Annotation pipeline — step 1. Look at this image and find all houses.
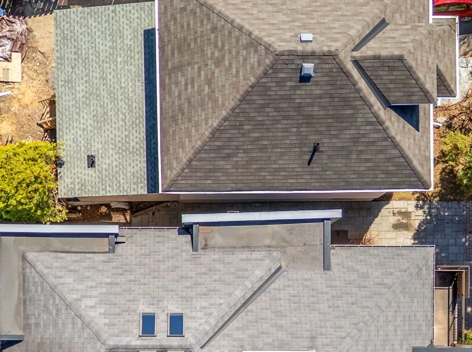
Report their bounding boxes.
[0,209,472,352]
[153,0,460,200]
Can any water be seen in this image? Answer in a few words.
No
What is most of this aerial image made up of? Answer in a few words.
buildings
